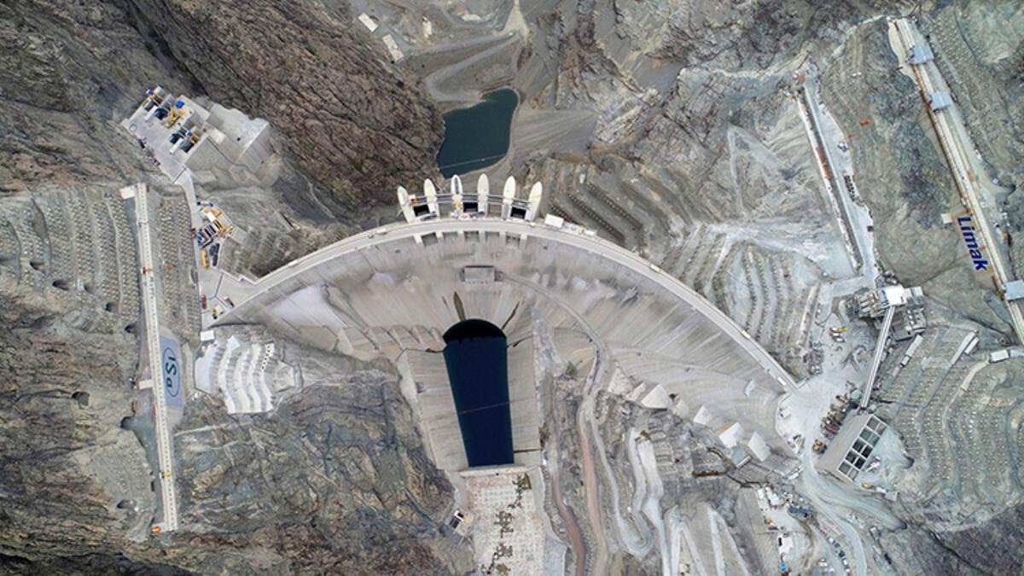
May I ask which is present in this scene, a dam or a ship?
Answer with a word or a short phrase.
dam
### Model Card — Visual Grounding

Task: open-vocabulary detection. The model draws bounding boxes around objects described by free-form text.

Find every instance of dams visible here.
[204,174,801,468]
